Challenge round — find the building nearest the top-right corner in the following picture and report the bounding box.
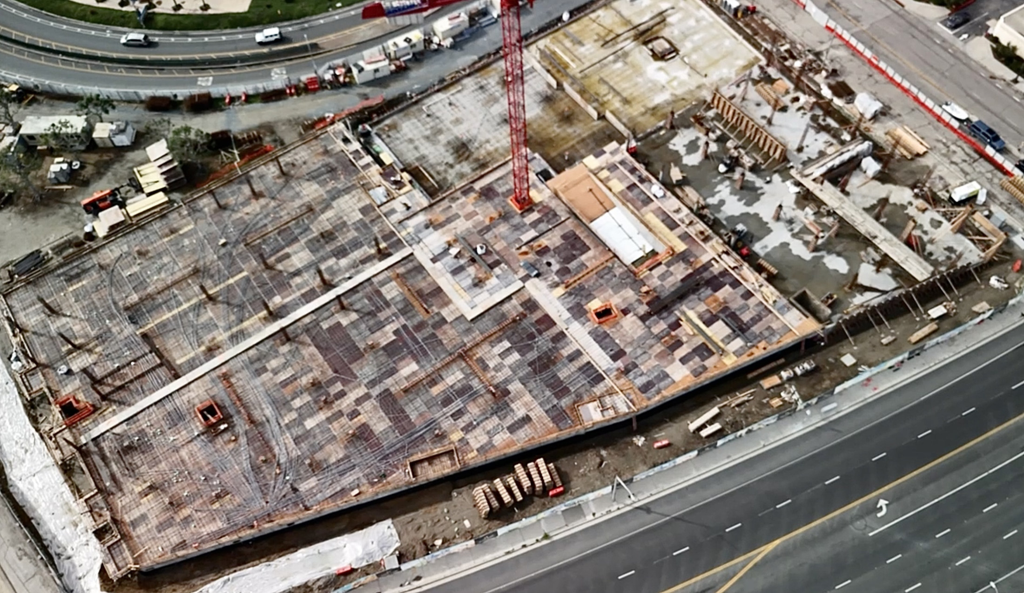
[982,2,1024,60]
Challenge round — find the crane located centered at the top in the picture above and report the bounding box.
[360,0,540,217]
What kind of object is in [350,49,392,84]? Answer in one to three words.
building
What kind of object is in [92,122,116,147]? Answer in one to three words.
building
